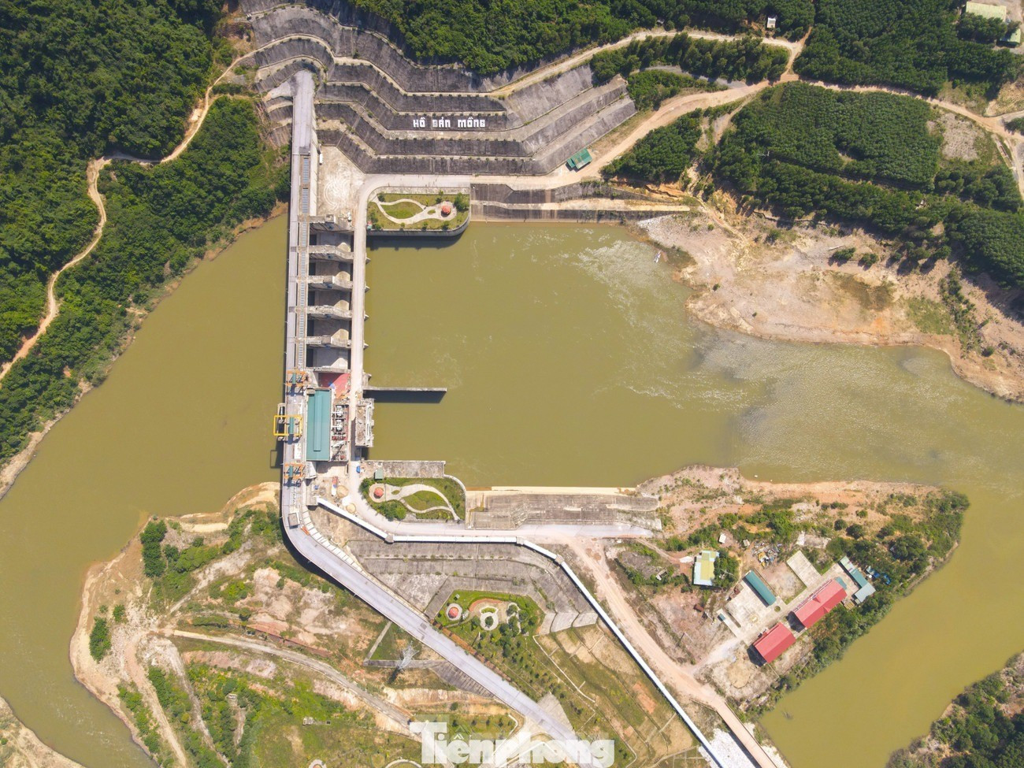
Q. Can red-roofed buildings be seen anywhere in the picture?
Yes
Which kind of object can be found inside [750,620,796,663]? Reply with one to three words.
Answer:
building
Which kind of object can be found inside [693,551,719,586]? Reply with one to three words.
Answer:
house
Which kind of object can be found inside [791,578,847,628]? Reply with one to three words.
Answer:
building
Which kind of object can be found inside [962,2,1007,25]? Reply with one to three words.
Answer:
shed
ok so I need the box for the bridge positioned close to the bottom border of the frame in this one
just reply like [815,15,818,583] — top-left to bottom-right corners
[713,701,775,768]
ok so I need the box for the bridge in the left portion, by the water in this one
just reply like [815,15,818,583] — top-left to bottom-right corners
[350,230,370,370]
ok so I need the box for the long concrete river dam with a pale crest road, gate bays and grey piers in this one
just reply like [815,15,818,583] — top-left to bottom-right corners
[266,71,616,768]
